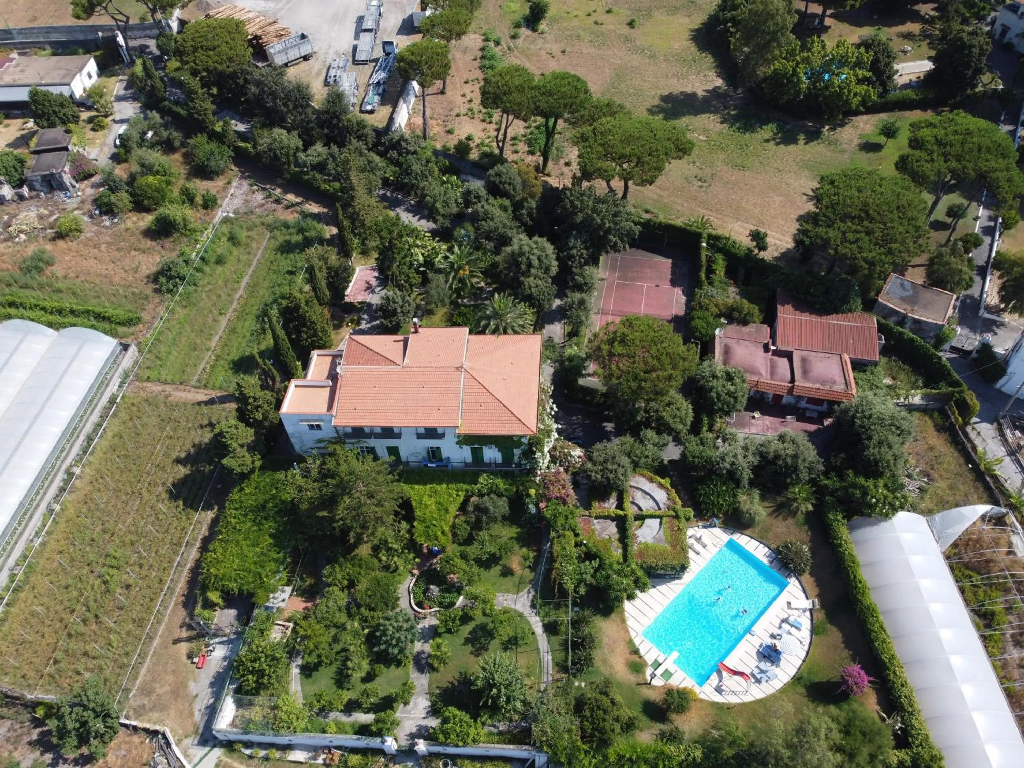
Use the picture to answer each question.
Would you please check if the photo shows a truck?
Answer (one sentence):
Yes, a truck is visible in the scene.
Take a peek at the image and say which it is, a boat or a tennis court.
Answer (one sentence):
It is a tennis court that can be seen here.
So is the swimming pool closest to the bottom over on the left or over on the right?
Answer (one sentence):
The swimming pool closest to the bottom appears in the right half of the scene.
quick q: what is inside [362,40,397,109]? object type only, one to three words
truck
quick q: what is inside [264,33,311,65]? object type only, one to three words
trailer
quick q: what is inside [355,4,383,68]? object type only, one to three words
truck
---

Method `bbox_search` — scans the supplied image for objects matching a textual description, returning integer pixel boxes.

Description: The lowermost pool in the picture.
[636,533,796,693]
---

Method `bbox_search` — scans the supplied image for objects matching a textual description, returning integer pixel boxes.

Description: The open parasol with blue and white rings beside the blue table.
[777,634,802,658]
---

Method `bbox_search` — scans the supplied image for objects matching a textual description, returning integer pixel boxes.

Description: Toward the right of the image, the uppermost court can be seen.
[586,240,709,418]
